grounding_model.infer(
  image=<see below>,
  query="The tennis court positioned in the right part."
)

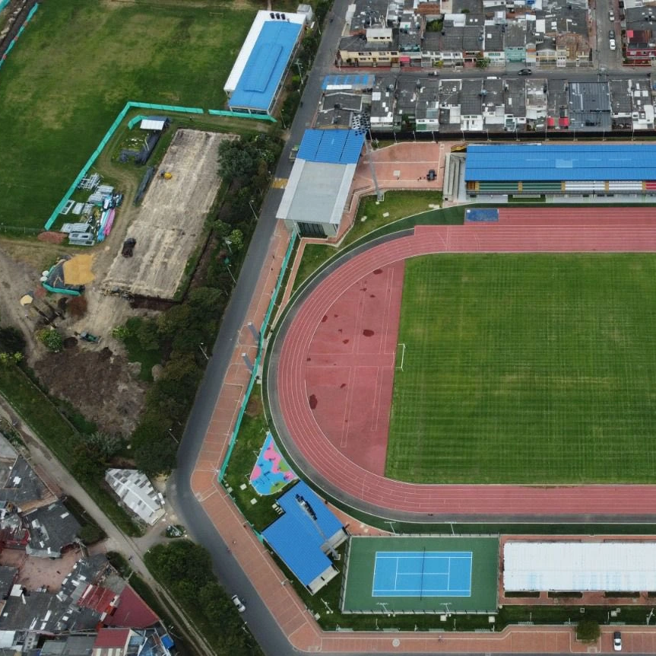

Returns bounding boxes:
[343,537,498,611]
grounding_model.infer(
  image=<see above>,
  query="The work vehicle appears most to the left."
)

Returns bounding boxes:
[71,327,101,341]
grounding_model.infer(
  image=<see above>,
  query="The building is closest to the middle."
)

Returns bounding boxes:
[276,130,365,234]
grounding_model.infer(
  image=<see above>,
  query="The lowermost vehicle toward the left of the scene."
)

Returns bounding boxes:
[232,594,245,613]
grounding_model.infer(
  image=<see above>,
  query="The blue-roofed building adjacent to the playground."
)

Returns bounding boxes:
[263,479,353,598]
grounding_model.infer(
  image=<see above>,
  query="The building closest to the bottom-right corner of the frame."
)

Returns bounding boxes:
[504,541,656,592]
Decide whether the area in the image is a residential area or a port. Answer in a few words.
residential area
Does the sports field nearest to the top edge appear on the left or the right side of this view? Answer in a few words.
left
